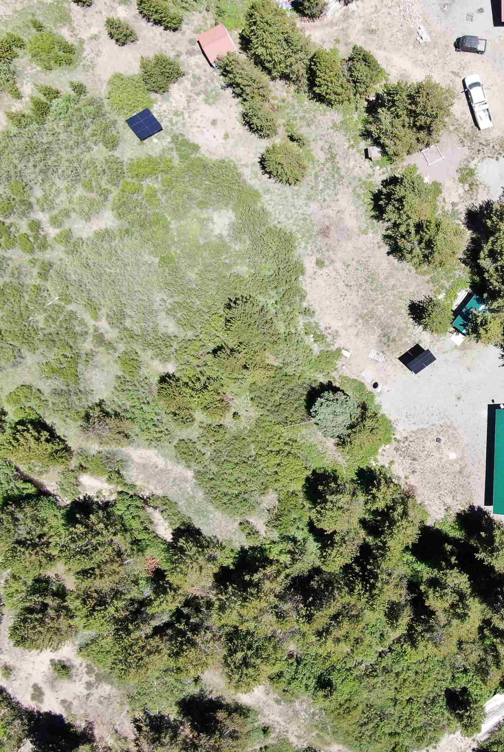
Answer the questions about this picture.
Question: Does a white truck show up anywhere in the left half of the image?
No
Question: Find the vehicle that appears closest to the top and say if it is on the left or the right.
right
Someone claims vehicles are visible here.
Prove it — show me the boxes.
[466,74,493,132]
[453,36,487,56]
